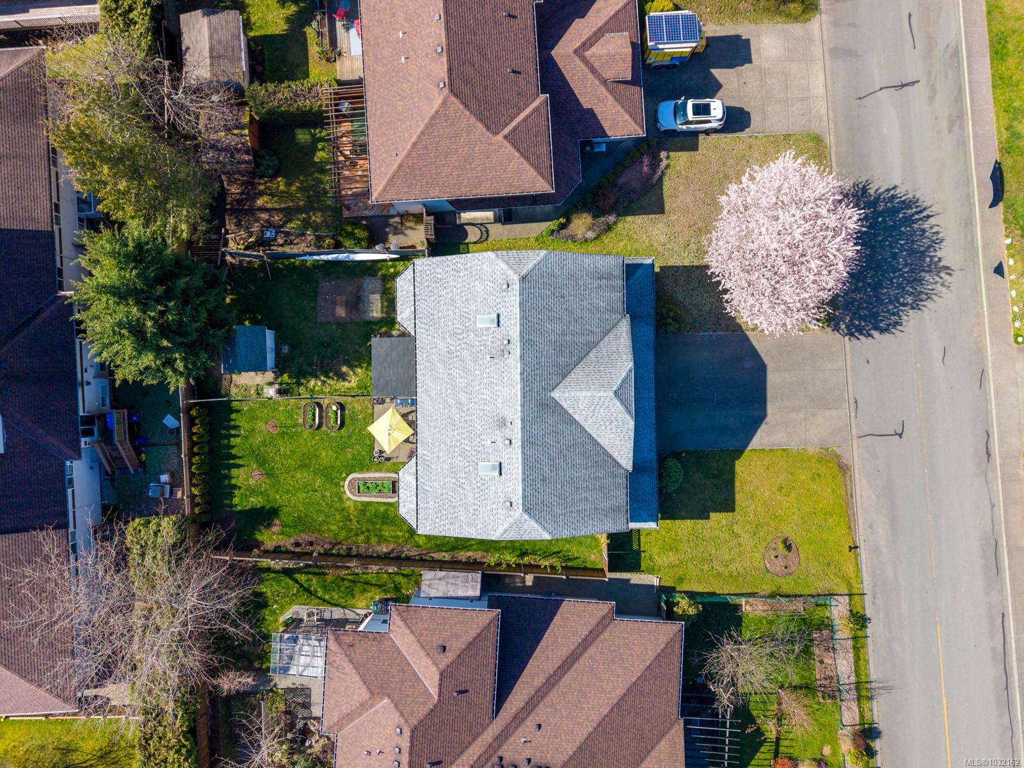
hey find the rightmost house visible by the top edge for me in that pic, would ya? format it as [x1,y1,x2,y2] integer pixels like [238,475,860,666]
[357,0,648,215]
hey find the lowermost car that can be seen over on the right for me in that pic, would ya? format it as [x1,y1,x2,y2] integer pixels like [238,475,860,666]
[655,96,728,136]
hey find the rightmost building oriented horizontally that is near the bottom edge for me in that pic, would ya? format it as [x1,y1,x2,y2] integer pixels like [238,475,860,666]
[318,588,686,768]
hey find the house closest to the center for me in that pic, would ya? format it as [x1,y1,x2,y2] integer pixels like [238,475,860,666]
[394,248,661,541]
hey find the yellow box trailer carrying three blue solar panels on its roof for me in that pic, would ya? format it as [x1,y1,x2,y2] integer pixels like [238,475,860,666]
[642,10,711,68]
